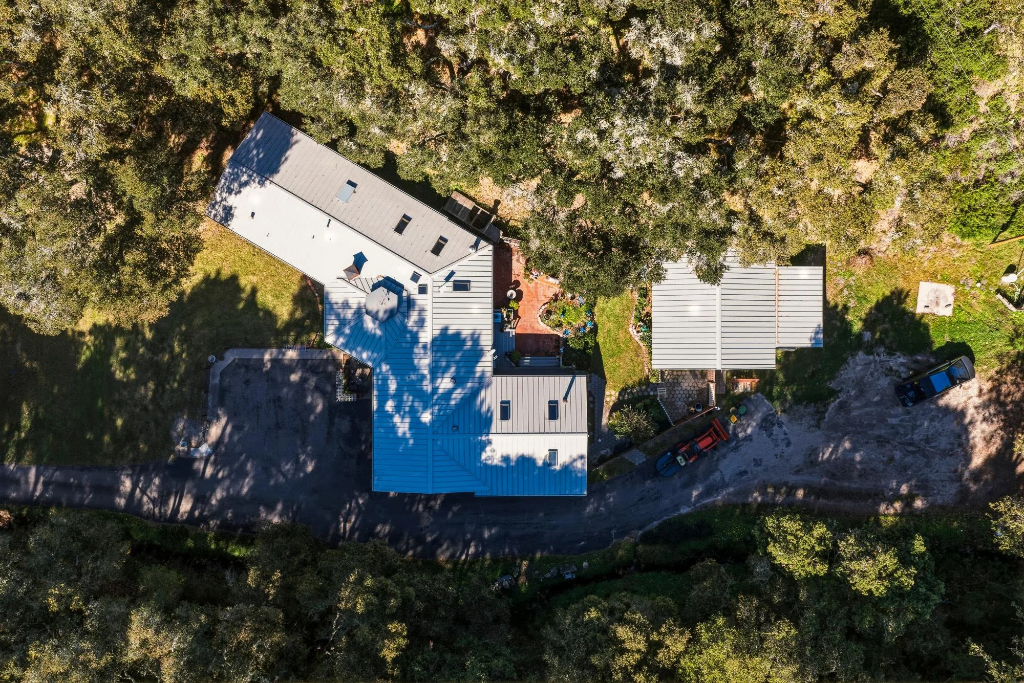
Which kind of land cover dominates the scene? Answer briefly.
trees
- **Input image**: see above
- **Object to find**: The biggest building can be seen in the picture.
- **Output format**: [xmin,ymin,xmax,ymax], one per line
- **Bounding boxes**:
[207,111,589,497]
